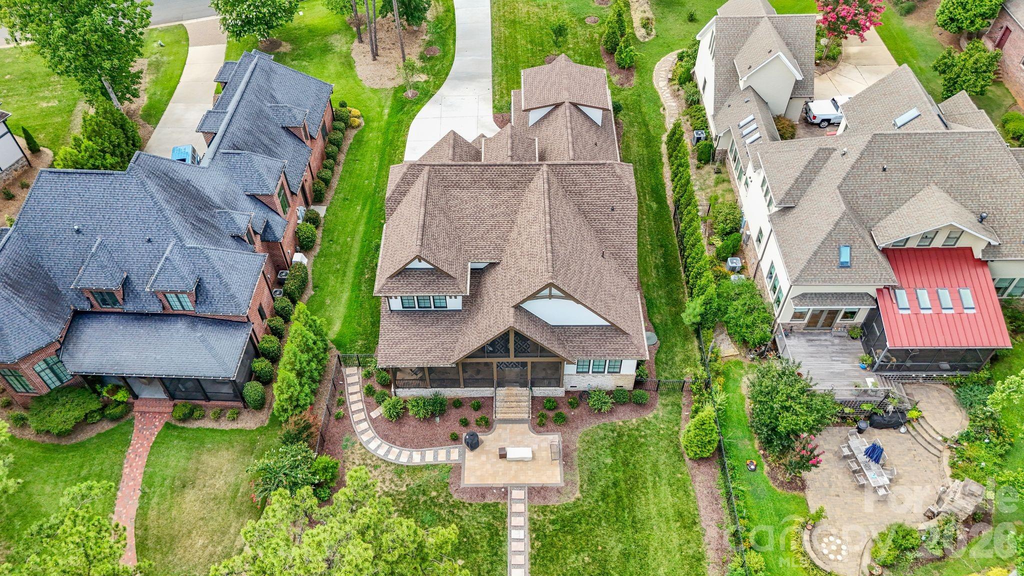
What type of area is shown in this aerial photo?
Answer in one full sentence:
This looks like a residential area.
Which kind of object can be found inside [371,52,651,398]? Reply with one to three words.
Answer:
house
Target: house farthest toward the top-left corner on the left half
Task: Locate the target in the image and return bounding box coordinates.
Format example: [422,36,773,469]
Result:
[0,110,33,181]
